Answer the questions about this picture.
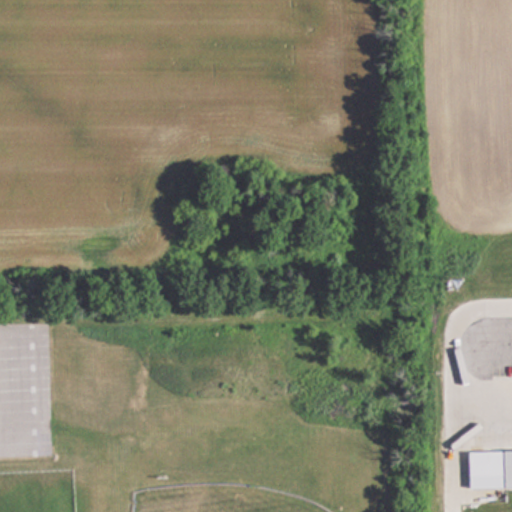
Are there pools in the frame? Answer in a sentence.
No, no pool is visible in the scene.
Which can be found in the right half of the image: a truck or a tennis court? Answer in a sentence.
The feature located in the right half of the image is a truck.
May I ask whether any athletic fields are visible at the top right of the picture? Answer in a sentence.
No, the scene shows no athletic field at the top right of the picture.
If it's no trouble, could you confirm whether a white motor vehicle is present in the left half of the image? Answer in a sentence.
No, I see no white motor vehicle in the left half of the image.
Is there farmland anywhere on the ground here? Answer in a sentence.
Yes, farmland can be seen from above here.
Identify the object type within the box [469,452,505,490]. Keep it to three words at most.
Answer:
shed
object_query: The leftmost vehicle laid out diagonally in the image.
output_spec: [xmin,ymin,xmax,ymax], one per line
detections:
[446,424,482,459]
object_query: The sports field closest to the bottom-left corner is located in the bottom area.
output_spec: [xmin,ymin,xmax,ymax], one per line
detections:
[0,470,76,512]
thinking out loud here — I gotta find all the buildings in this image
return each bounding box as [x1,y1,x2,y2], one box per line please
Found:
[469,452,505,490]
[506,450,512,492]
